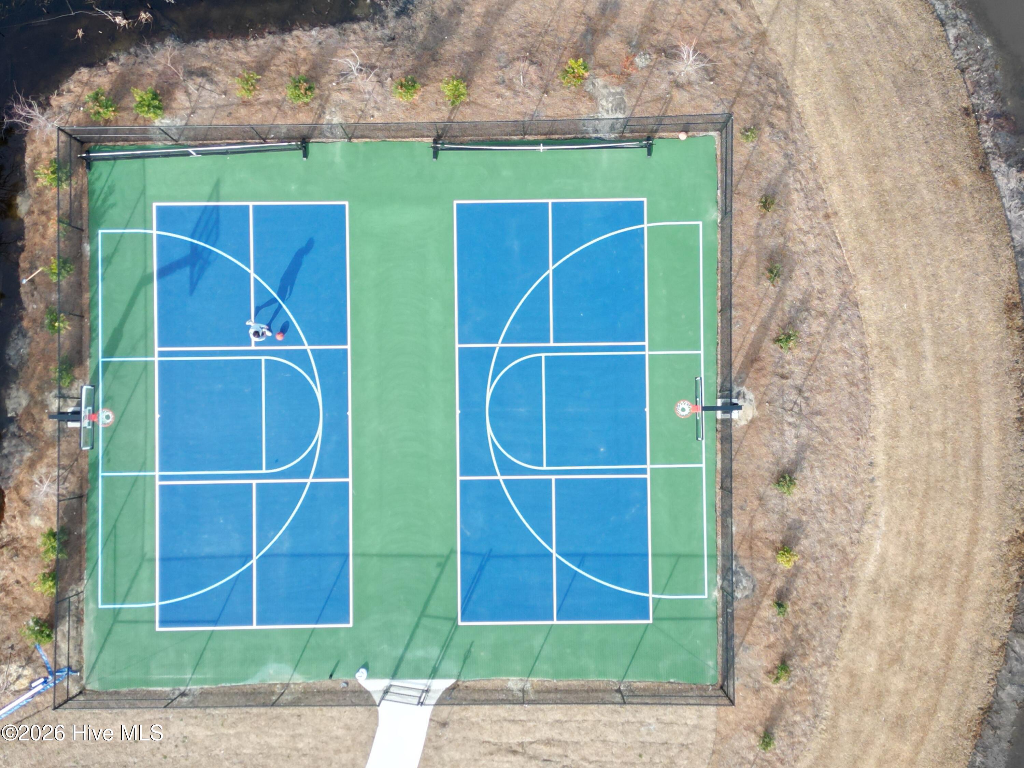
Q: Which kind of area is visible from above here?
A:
sports ground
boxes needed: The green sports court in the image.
[84,136,718,690]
